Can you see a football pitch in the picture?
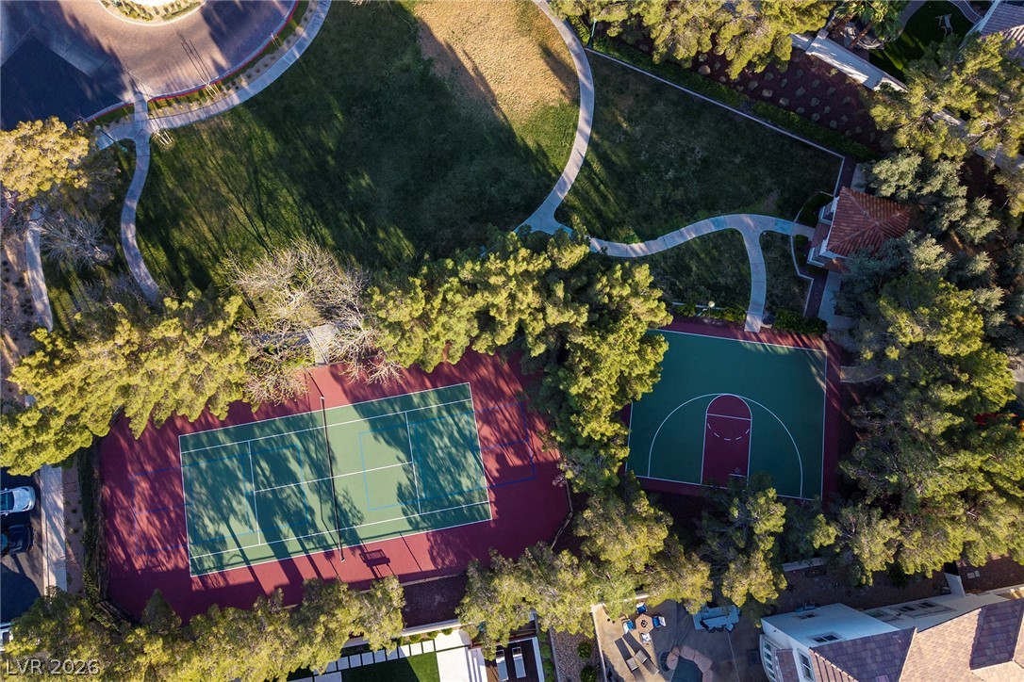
No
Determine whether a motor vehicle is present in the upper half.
No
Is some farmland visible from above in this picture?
No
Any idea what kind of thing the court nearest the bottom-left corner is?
tennis court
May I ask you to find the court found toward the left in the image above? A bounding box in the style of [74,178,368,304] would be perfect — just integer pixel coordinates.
[99,332,571,632]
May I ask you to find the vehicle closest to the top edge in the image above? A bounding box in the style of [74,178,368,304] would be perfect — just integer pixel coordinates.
[0,486,38,515]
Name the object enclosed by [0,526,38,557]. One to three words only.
car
